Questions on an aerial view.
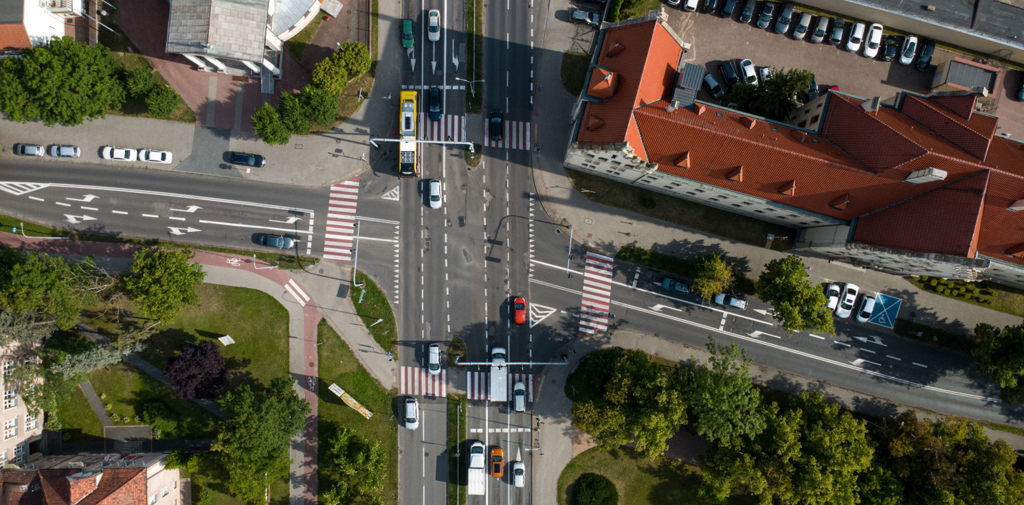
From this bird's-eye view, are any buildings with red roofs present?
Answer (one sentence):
Yes, there's a building with a red roof here.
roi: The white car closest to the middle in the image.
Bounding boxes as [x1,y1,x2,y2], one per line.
[427,180,442,209]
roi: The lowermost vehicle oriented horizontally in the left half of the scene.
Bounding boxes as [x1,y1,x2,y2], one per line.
[261,234,295,249]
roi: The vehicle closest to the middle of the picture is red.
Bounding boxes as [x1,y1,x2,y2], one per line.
[512,296,526,324]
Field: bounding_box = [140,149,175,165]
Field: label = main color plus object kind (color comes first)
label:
white car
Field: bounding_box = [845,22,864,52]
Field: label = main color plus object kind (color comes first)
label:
white car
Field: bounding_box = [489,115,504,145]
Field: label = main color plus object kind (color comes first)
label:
black car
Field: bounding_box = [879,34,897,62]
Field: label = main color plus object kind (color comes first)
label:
black car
